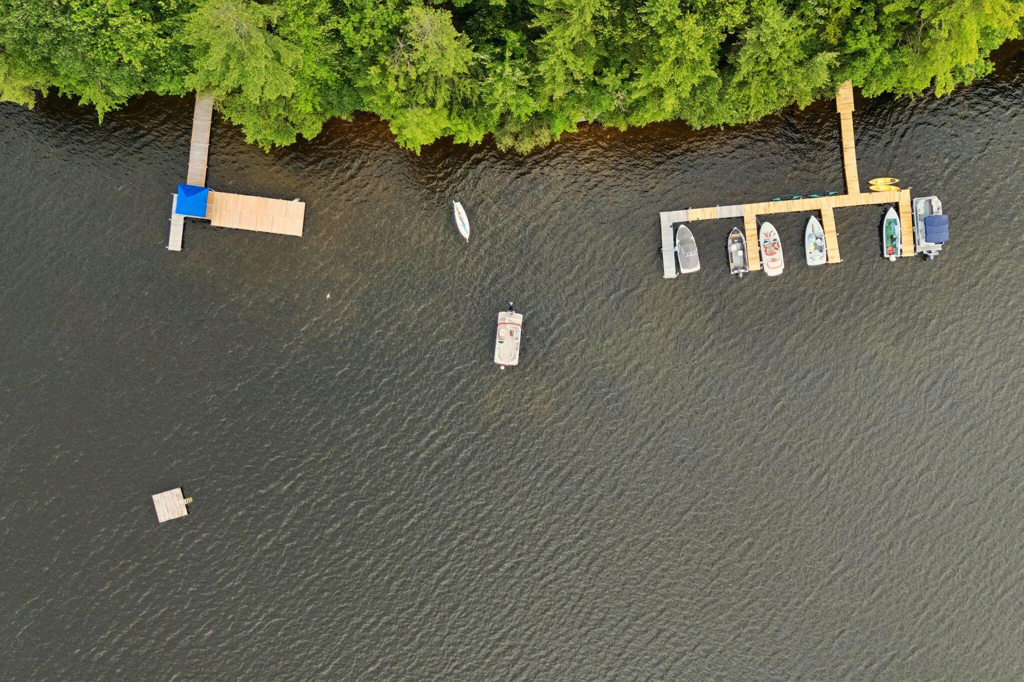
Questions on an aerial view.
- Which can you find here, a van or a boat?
boat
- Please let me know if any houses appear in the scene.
No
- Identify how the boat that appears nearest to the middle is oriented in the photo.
up and down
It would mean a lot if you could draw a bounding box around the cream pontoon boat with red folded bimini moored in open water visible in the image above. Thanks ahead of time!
[494,305,523,365]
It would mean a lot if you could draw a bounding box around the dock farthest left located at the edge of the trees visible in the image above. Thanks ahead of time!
[166,94,307,251]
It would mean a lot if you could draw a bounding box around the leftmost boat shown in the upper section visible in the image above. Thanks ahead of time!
[453,200,470,239]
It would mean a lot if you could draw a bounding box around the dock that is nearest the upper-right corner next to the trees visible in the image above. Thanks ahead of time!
[658,82,916,278]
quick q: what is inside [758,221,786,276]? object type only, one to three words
boat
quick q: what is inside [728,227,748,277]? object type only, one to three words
boat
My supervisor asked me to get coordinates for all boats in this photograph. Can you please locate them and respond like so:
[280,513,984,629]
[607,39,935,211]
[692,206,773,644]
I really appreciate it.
[910,196,948,256]
[758,221,786,276]
[808,191,838,197]
[869,186,901,192]
[676,224,701,274]
[453,200,470,239]
[494,305,523,365]
[772,195,802,201]
[728,227,748,277]
[867,178,900,185]
[803,215,827,266]
[881,207,901,263]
